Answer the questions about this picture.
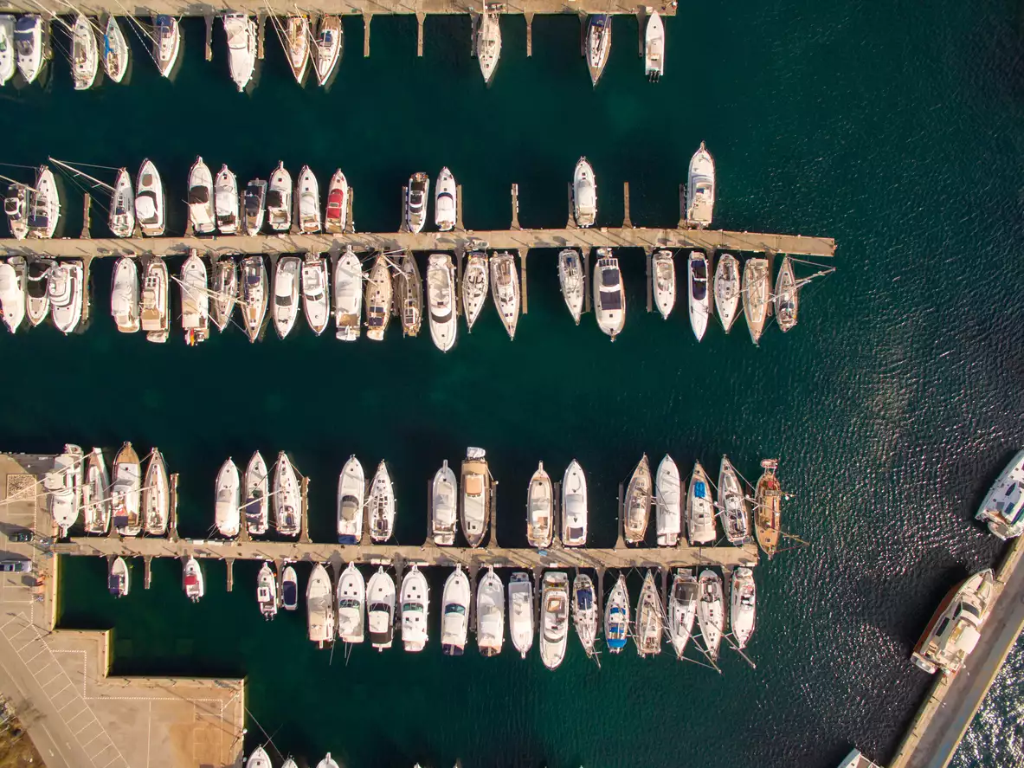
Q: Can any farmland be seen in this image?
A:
No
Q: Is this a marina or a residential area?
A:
marina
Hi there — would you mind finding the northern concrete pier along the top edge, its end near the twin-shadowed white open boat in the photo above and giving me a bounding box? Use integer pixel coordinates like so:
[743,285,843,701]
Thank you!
[0,0,676,63]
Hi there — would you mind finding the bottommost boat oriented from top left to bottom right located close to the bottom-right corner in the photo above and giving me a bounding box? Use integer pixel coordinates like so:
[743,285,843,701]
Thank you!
[912,657,932,673]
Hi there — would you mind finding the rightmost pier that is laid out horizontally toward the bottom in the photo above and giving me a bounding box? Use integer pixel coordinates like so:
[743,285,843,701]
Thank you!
[70,473,758,635]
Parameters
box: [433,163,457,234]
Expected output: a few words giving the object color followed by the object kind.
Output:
white boat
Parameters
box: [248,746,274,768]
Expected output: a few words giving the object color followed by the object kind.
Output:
white boat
